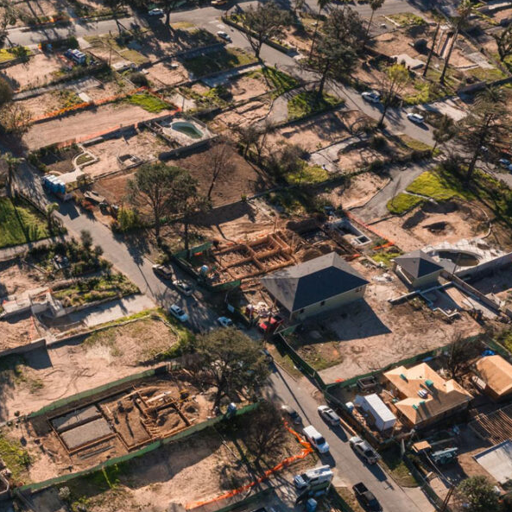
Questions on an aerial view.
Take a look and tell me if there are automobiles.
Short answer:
Yes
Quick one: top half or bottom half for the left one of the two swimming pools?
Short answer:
top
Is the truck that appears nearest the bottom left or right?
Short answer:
right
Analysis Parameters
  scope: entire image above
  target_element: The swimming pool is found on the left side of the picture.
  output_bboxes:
[161,115,210,142]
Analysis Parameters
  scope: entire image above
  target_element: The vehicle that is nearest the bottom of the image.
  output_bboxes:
[346,478,389,512]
